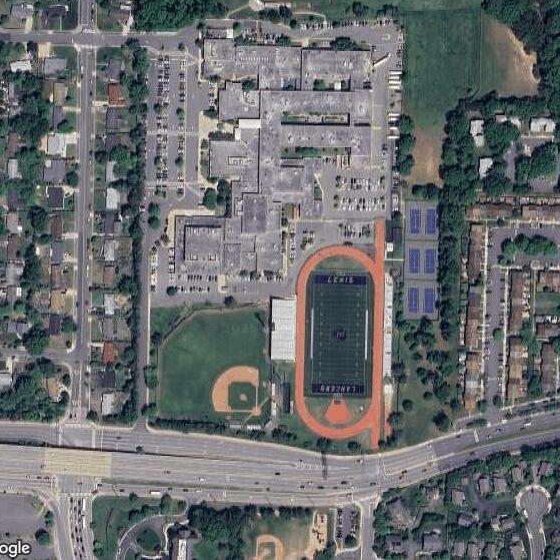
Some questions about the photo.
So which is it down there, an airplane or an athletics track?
athletics track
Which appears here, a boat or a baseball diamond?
baseball diamond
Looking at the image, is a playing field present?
Yes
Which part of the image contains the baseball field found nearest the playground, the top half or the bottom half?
bottom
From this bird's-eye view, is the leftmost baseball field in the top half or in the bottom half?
bottom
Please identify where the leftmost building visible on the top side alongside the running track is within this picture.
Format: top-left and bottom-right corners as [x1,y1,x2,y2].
[175,39,371,275]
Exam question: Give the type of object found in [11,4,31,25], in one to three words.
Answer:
house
